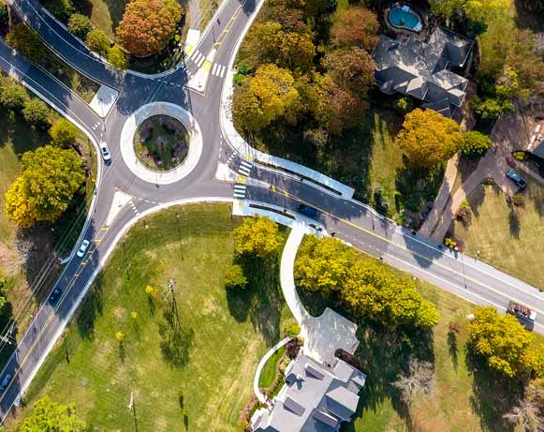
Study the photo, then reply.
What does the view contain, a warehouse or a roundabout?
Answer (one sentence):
The one in the frame is a roundabout.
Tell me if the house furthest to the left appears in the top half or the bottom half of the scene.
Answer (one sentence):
Seen from above, the house furthest to the left lies in the bottom half of the view.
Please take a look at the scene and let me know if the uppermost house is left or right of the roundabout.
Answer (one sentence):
To the right of the roundabout is where the uppermost house appears.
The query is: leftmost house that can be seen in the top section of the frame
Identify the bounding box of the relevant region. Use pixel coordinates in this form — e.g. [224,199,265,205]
[373,23,477,121]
